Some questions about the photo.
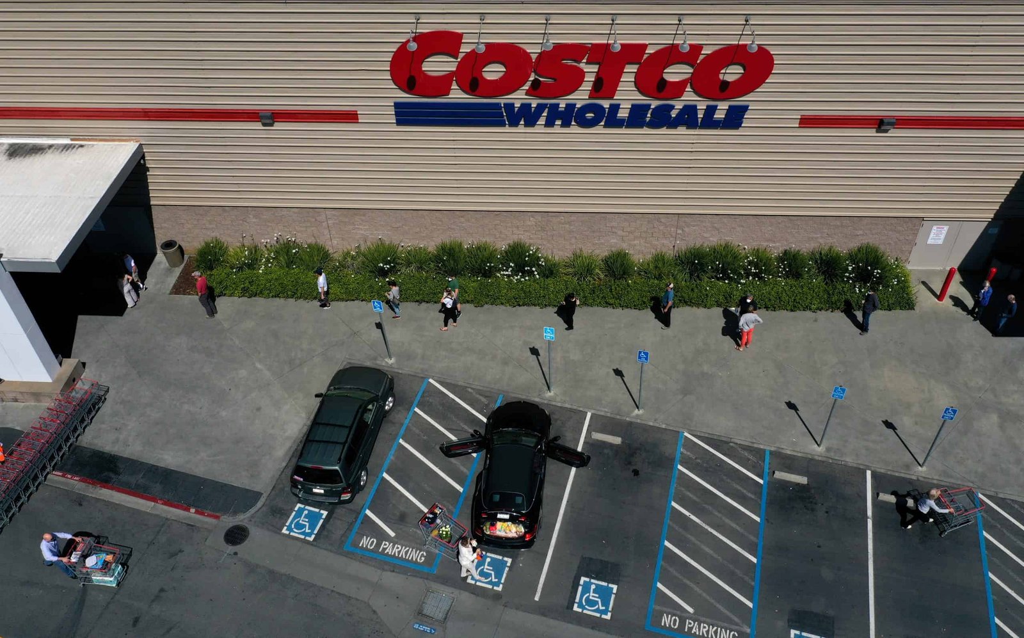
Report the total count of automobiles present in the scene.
2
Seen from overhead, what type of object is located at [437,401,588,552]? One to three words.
car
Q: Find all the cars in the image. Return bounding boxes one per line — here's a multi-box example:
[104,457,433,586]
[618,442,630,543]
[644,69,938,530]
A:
[287,367,390,508]
[437,401,588,552]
